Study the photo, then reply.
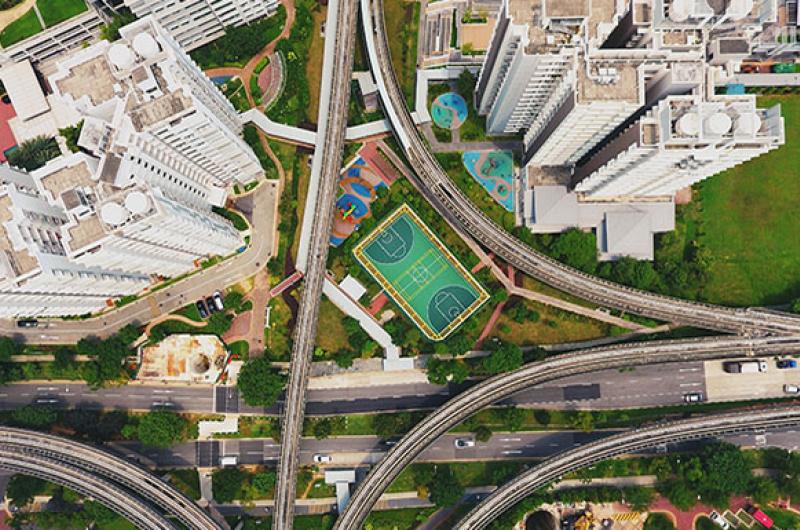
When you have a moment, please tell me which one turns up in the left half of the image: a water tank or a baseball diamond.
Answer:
water tank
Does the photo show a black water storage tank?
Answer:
No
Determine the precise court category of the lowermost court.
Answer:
basketball court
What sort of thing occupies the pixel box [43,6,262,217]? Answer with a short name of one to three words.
building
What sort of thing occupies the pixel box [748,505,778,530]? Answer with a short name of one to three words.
truck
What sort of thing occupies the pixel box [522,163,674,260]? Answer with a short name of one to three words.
building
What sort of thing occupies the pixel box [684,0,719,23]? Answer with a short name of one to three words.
water tank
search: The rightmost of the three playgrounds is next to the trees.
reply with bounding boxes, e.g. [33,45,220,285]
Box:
[462,149,514,211]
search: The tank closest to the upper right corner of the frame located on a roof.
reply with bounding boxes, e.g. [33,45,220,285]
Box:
[716,0,757,28]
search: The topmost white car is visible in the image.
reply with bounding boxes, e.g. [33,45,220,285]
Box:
[212,291,224,309]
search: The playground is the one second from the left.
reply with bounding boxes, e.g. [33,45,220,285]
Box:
[431,91,467,129]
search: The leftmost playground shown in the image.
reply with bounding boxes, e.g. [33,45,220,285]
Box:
[331,141,398,246]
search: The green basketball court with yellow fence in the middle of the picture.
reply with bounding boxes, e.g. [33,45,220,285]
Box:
[355,203,488,336]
